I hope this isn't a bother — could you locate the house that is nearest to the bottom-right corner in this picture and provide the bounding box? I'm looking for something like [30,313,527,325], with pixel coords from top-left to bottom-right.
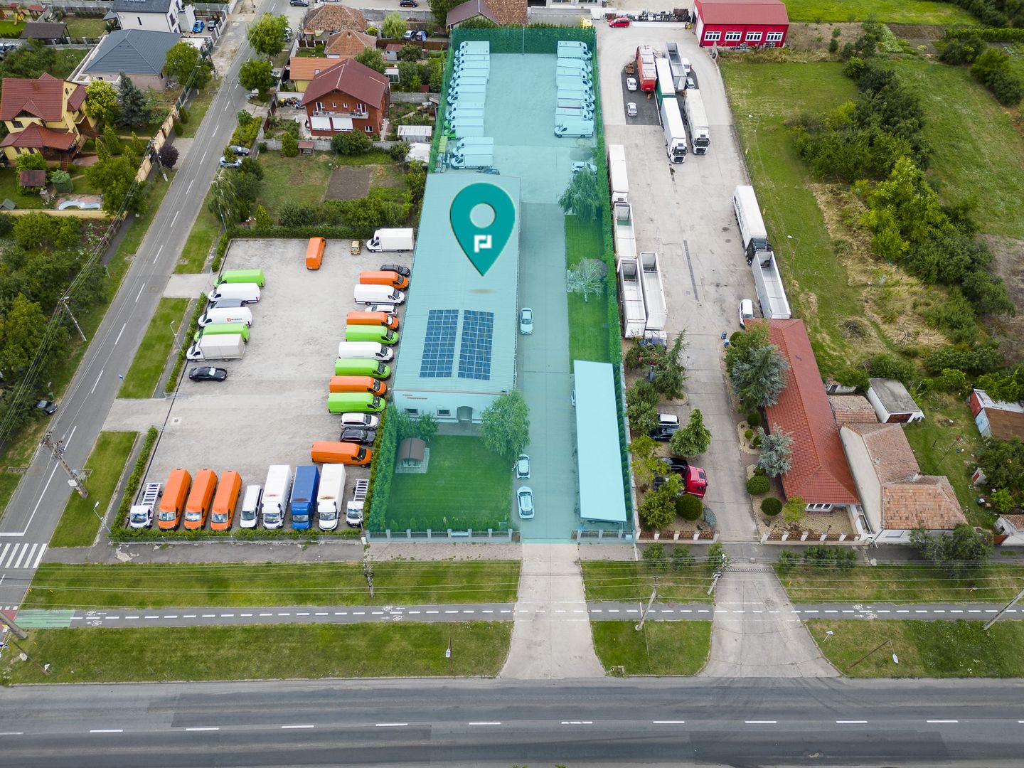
[978,485,1024,542]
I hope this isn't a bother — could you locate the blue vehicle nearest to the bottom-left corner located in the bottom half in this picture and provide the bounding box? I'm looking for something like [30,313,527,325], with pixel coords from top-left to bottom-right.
[289,465,320,531]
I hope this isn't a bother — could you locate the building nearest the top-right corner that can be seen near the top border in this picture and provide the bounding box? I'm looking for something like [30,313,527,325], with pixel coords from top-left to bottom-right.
[692,0,788,48]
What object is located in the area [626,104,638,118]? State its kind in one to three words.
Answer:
vehicle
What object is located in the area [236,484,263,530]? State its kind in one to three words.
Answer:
vehicle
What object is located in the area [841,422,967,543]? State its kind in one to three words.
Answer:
house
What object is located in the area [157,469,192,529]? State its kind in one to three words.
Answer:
van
